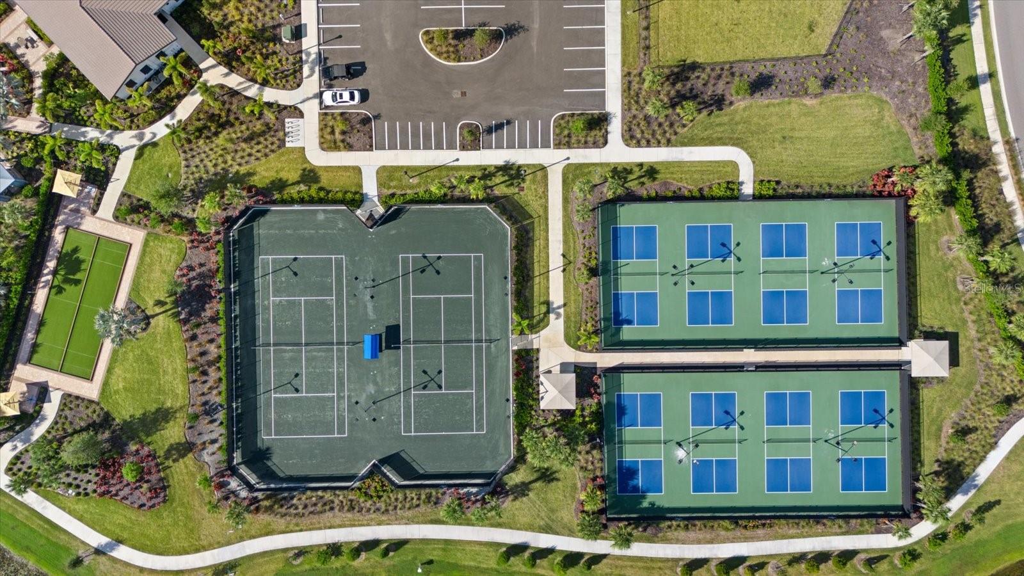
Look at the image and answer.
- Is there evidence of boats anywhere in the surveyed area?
No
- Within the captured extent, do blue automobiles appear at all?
No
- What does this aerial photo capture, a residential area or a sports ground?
sports ground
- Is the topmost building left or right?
left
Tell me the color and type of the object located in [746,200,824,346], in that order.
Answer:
green sports court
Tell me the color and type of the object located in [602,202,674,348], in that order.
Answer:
green sports court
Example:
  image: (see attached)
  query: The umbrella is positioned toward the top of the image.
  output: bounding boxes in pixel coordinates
[53,169,96,197]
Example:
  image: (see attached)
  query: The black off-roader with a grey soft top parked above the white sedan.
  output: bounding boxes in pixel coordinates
[320,62,352,81]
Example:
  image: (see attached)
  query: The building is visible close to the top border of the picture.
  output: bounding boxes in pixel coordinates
[18,0,185,103]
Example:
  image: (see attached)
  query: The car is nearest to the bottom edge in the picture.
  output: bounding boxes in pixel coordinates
[322,88,360,106]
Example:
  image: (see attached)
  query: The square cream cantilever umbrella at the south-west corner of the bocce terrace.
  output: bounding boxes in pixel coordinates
[0,391,37,417]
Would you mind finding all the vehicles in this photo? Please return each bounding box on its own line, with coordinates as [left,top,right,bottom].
[322,88,360,106]
[320,62,352,81]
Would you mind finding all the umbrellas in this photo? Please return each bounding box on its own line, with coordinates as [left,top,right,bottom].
[53,169,96,197]
[0,391,37,417]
